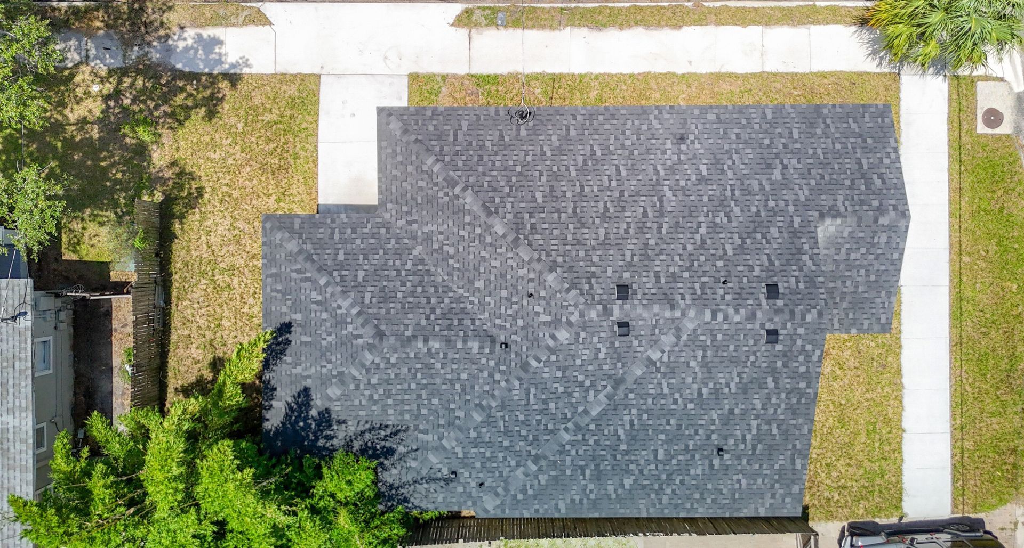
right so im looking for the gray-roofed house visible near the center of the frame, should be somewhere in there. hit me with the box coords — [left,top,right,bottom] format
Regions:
[262,106,909,518]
